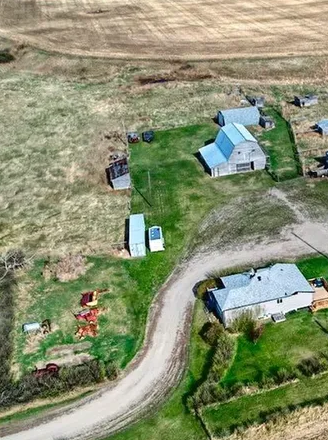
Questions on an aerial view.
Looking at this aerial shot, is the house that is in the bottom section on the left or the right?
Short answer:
right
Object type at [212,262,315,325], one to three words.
house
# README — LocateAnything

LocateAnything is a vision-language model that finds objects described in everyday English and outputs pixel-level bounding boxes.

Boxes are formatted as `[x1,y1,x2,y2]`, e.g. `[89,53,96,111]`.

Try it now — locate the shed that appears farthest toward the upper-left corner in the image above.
[108,164,133,189]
